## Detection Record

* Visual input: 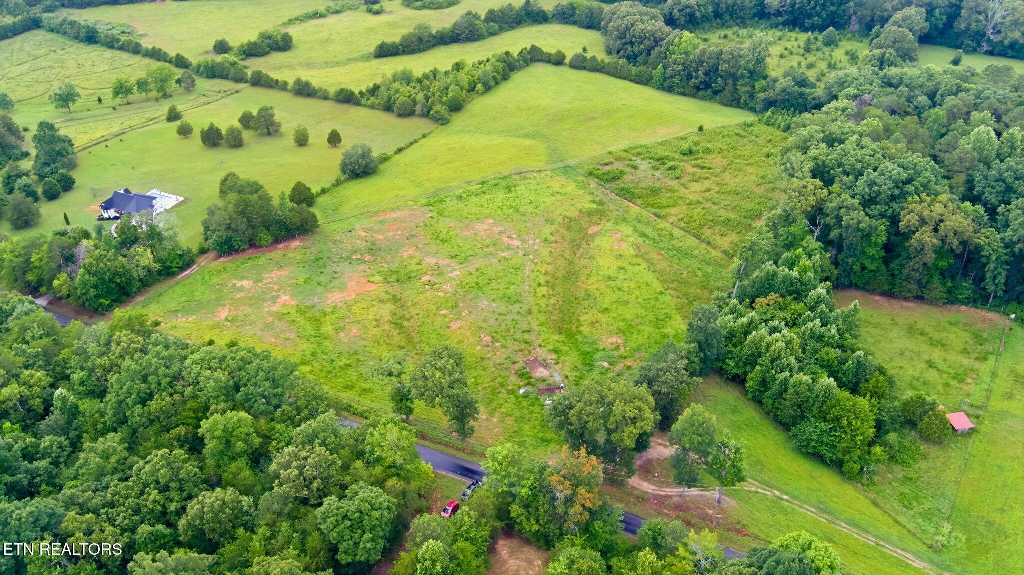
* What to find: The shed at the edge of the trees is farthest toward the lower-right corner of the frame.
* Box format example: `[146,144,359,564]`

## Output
[944,412,976,436]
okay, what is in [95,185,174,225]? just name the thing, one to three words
house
